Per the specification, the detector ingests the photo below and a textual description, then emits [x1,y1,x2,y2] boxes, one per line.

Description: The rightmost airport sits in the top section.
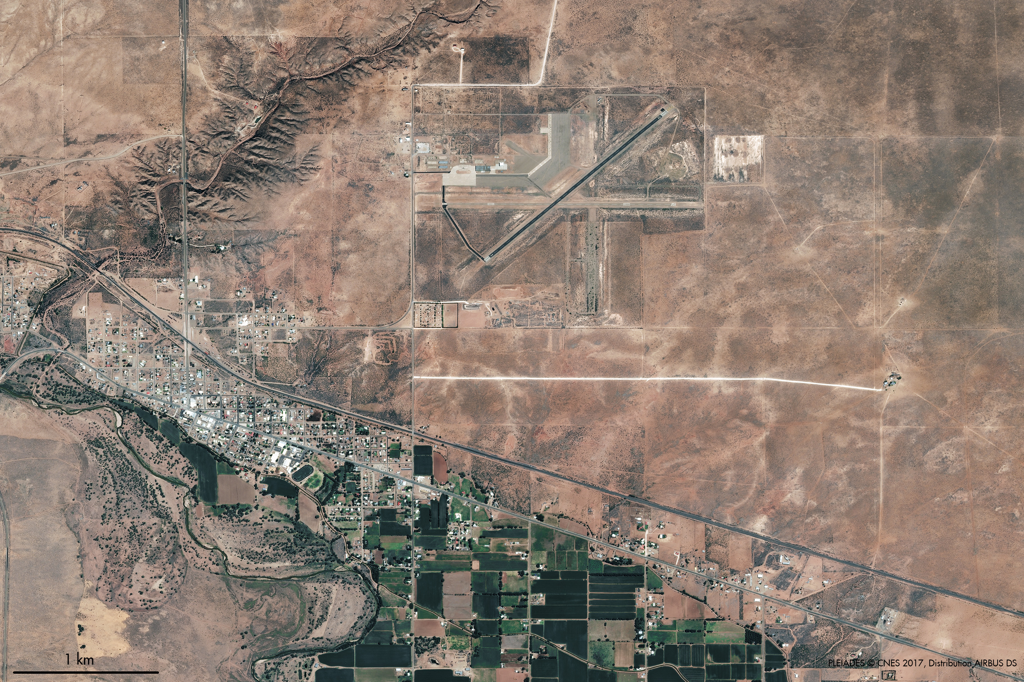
[443,93,701,315]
